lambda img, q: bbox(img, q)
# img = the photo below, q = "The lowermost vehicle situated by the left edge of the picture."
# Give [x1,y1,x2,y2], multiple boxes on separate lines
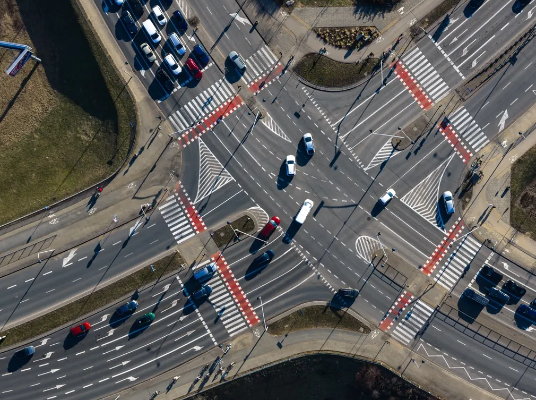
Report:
[12,345,35,360]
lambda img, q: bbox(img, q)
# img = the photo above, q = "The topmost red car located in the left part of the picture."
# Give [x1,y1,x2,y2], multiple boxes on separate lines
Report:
[186,57,203,81]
